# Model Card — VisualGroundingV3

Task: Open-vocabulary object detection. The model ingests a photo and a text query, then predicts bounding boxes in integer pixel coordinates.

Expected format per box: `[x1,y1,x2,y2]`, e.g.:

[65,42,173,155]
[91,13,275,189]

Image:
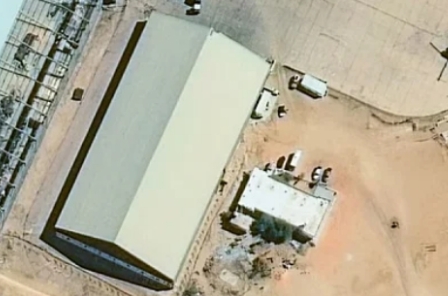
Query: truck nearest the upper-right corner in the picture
[294,76,329,97]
